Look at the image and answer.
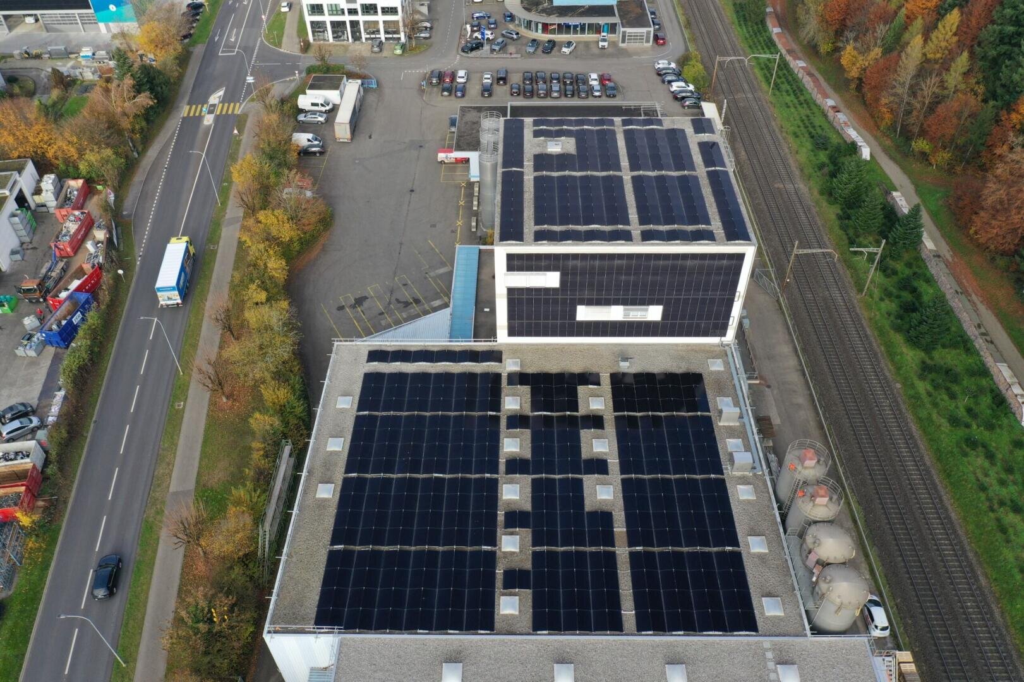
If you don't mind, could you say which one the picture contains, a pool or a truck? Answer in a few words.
truck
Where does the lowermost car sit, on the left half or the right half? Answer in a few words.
right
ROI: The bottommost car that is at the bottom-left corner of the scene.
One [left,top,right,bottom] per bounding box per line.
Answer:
[90,554,124,605]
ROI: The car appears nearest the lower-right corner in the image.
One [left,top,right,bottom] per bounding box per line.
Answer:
[862,591,897,647]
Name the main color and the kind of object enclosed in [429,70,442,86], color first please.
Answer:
gray vehicle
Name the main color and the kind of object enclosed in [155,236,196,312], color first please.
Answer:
white truck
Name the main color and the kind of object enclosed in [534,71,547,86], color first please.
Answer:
gray vehicle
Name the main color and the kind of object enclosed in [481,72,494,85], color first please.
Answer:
white vehicle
